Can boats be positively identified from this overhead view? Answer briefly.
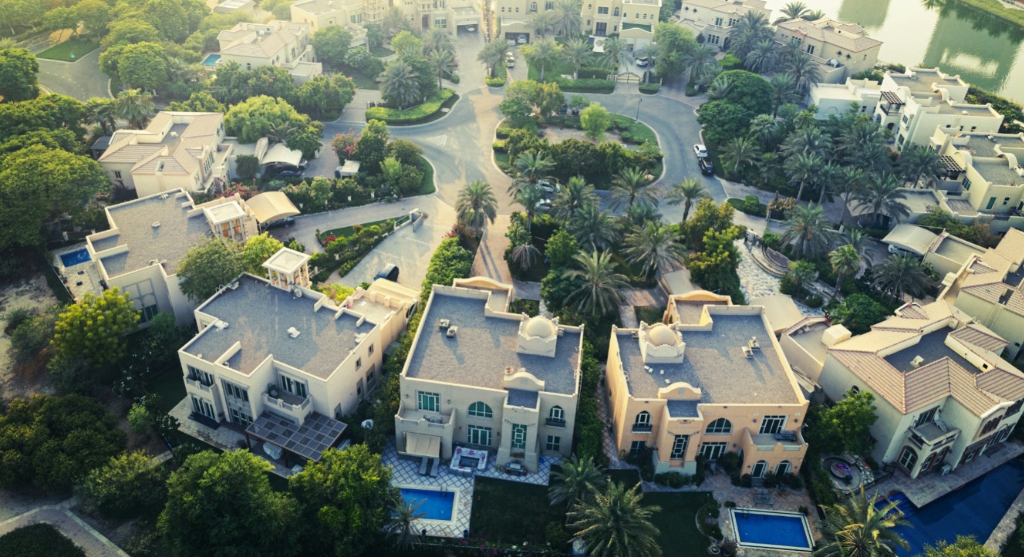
No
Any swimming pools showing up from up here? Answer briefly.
Yes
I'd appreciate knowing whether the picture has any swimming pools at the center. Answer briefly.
No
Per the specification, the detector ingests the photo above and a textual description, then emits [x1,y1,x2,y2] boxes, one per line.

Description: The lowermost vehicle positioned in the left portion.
[369,262,405,283]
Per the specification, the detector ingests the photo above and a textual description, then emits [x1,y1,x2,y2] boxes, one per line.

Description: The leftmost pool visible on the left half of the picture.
[59,245,94,268]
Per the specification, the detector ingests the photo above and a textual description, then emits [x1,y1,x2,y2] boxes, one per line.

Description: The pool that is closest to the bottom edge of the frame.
[725,506,820,556]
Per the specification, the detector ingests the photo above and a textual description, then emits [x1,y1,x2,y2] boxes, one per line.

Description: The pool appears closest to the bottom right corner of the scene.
[847,451,1024,557]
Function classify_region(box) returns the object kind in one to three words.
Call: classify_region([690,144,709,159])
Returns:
car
